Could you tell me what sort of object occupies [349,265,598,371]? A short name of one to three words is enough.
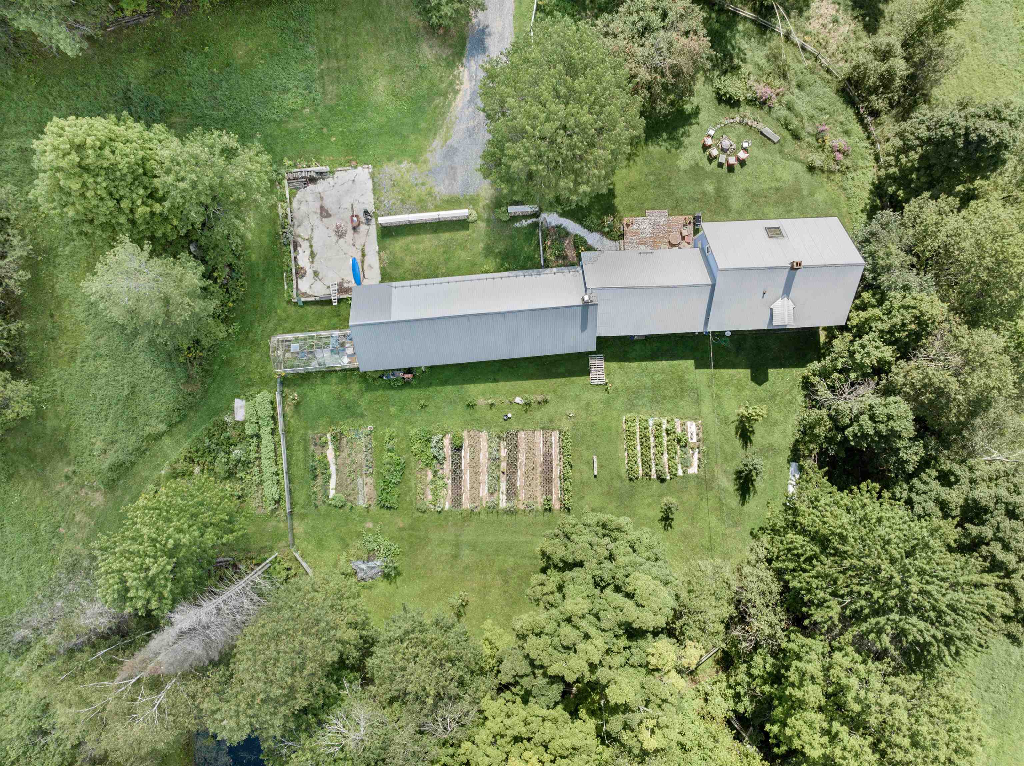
barn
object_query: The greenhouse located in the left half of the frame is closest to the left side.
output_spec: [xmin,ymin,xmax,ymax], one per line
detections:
[271,330,359,372]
